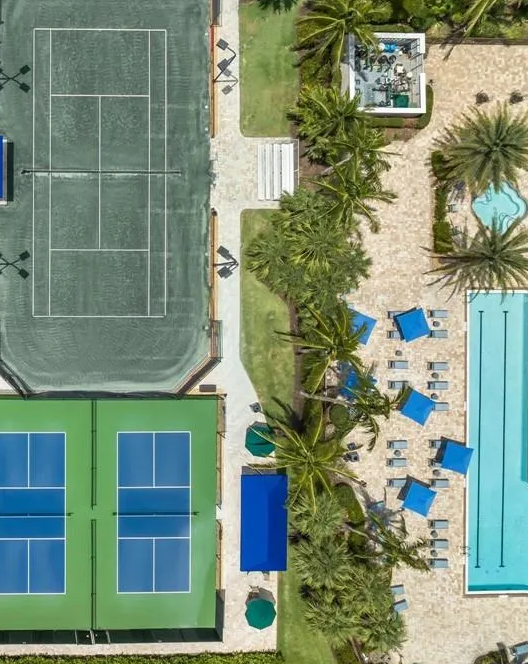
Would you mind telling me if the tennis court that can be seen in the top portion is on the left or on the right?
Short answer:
left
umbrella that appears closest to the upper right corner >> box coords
[393,307,430,343]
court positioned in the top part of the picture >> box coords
[0,0,216,392]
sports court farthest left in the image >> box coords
[0,397,92,630]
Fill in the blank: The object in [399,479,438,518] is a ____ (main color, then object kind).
blue umbrella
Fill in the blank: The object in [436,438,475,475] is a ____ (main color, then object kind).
blue umbrella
